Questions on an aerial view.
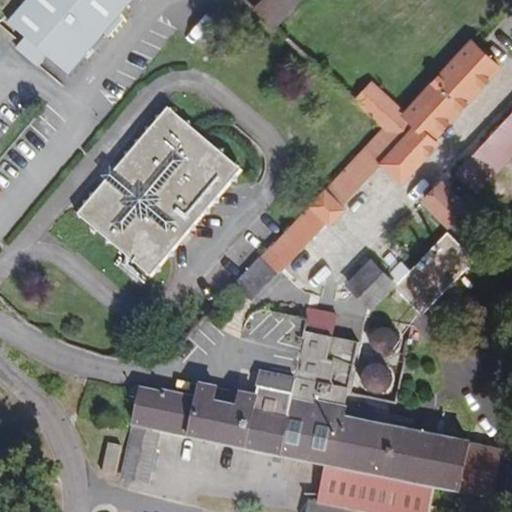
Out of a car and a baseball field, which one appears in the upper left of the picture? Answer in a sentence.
There is a car in the upper left of the picture.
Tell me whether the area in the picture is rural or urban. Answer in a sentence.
This place is urban.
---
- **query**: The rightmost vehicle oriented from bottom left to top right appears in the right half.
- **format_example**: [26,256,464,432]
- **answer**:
[408,178,430,200]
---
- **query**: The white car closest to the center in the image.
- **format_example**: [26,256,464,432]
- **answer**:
[246,232,263,248]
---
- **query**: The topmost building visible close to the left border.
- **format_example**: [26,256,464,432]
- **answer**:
[9,0,140,76]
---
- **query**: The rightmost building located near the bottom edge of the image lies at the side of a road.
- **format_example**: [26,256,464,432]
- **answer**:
[122,369,502,512]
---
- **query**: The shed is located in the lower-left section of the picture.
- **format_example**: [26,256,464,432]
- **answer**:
[102,442,121,473]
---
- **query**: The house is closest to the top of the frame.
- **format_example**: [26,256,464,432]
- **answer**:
[252,0,312,34]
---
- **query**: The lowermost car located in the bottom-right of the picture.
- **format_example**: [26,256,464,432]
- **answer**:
[478,414,498,435]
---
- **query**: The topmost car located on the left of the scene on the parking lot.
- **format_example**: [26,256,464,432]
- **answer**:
[128,54,148,68]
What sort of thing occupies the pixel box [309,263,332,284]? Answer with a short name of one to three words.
vehicle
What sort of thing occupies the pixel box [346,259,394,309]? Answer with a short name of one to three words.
house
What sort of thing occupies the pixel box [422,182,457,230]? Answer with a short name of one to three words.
house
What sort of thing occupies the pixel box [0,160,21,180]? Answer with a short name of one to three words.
car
